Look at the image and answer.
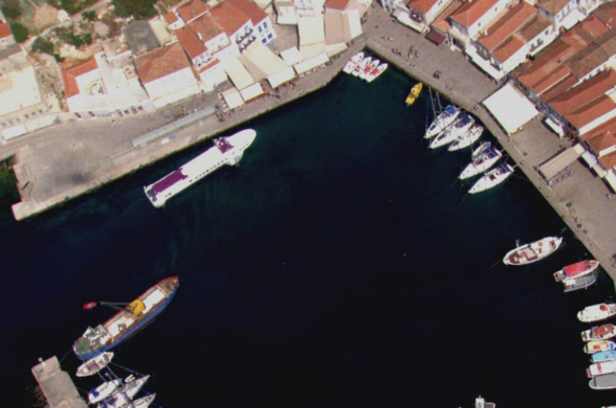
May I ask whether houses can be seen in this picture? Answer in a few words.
Yes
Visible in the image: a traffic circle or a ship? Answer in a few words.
ship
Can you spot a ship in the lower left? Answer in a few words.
Yes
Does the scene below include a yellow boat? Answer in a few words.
Yes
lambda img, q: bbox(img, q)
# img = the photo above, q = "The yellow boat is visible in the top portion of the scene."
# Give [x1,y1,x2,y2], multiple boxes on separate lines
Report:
[406,81,422,106]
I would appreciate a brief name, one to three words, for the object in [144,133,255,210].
ship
